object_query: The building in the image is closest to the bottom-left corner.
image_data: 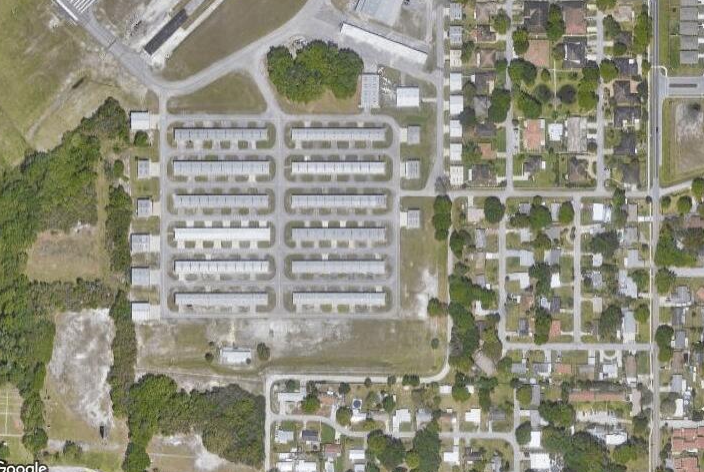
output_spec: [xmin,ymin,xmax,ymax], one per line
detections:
[132,302,149,321]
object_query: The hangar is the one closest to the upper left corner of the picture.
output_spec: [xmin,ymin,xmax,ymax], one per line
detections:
[131,112,149,130]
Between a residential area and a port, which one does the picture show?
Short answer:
residential area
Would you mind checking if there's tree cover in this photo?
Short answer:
Yes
